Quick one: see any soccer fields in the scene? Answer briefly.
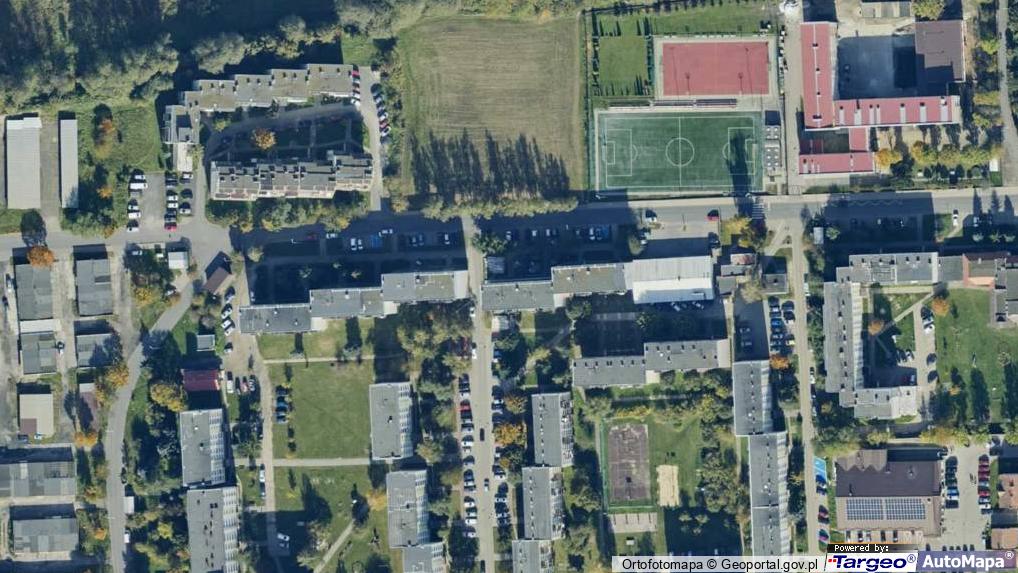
Yes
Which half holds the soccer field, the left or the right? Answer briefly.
right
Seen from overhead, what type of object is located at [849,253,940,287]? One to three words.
building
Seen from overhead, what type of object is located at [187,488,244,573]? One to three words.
building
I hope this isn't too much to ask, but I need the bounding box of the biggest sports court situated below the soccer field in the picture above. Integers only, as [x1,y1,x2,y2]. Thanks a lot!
[604,419,656,507]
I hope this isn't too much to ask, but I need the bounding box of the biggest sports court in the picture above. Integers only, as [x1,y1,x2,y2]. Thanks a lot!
[653,35,778,98]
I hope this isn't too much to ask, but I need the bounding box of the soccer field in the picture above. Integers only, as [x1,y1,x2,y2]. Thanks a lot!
[594,103,764,197]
